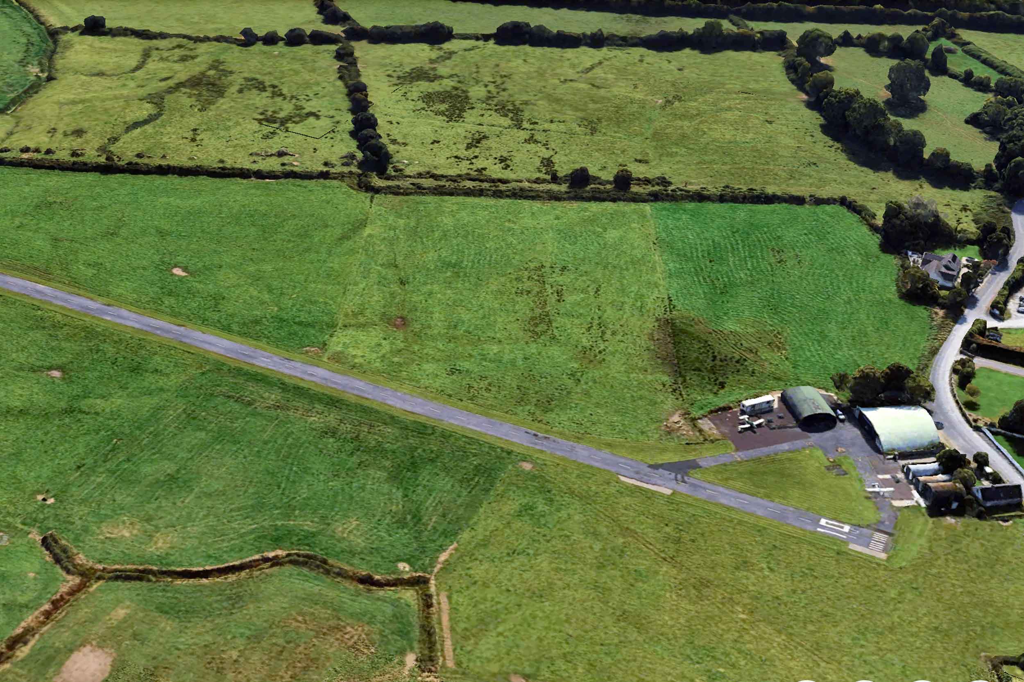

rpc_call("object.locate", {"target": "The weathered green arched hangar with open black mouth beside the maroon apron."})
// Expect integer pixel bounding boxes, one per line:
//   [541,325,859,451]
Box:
[779,385,837,427]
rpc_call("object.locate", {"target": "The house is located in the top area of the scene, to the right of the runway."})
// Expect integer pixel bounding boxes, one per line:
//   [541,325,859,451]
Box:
[915,253,959,289]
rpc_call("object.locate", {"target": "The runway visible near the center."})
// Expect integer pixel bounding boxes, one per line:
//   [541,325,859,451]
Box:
[0,274,892,553]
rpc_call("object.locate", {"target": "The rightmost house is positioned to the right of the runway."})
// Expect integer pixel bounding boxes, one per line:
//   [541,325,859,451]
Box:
[976,482,1024,511]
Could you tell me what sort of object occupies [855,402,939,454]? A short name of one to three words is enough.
hangar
